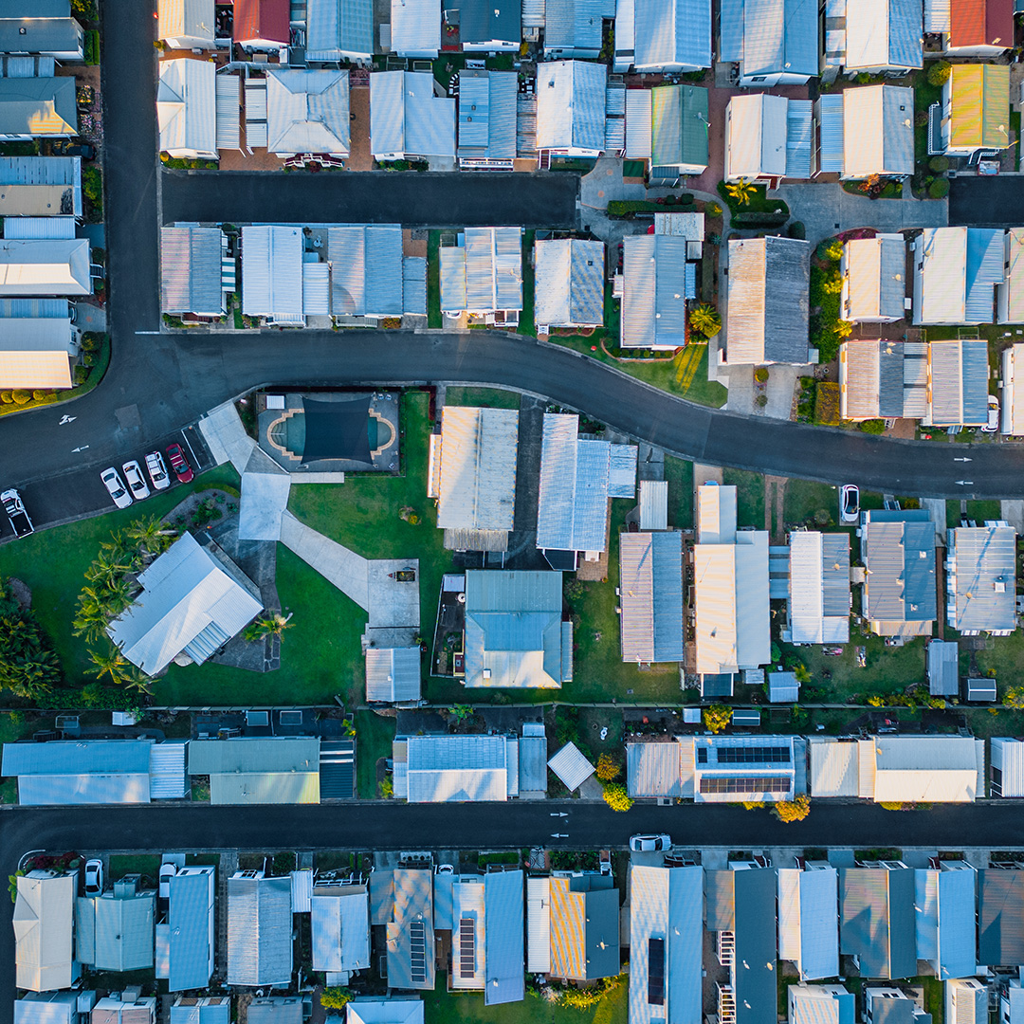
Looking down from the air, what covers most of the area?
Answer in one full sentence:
The bulk of the photo consists of buildings.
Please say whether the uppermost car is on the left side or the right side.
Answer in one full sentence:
You can find the uppermost car on the left side of the picture.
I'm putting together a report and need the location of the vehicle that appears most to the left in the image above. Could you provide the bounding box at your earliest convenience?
[2,489,35,538]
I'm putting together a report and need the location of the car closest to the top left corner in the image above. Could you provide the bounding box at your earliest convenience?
[63,140,105,161]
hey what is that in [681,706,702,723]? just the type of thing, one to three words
shed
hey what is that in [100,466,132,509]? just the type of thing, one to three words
car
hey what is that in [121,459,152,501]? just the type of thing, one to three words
car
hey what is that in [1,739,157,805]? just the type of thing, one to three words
house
